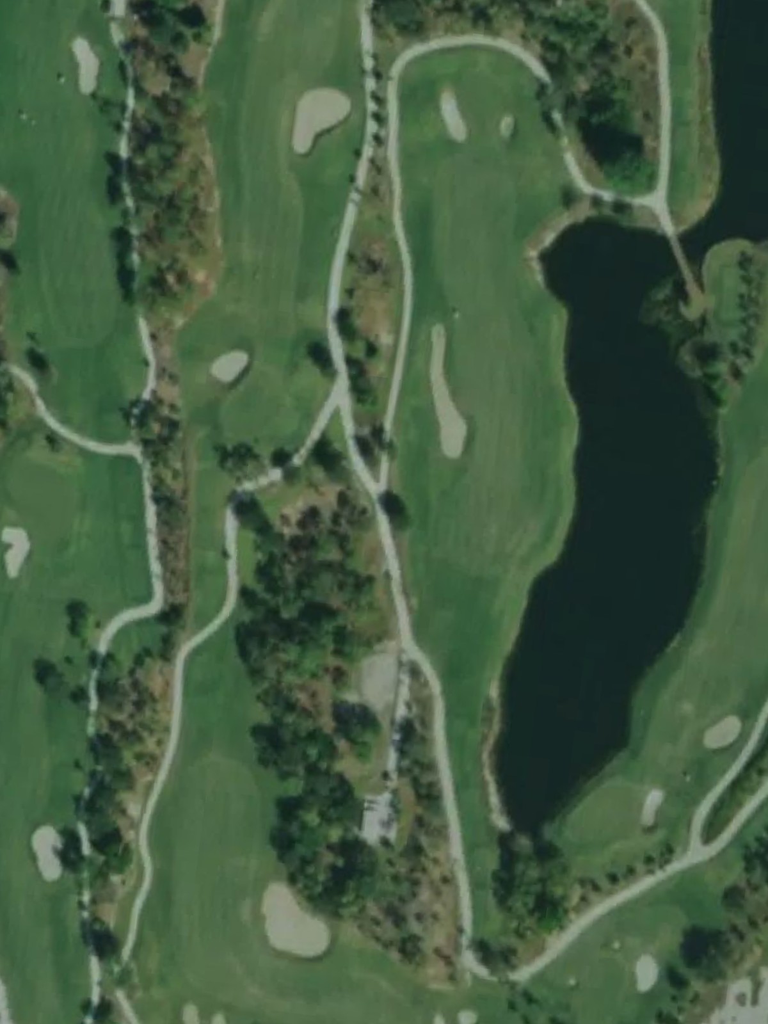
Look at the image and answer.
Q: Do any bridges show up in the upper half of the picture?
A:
Yes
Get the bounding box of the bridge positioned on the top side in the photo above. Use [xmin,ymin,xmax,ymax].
[666,224,699,302]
